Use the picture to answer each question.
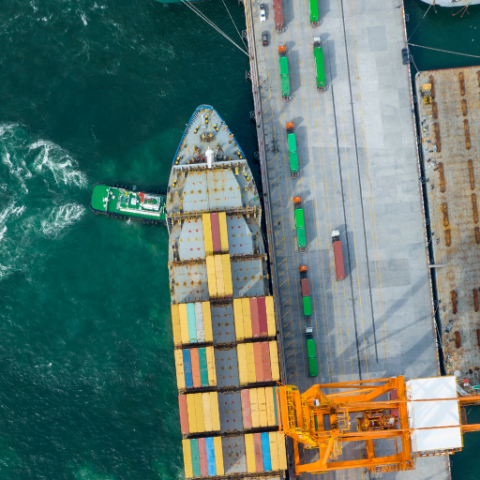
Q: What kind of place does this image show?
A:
port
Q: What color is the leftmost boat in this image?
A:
green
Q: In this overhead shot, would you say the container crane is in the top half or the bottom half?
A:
bottom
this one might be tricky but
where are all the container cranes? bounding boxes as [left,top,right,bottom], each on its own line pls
[279,372,480,480]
